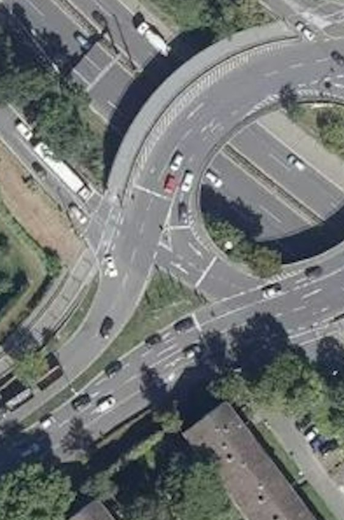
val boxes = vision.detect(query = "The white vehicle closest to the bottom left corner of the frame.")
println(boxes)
[37,415,57,432]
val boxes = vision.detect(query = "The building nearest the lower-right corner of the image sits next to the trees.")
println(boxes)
[183,403,315,520]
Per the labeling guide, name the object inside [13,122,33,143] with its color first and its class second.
white car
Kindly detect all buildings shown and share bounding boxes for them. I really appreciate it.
[183,403,315,520]
[66,501,111,520]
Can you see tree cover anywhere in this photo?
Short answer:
Yes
